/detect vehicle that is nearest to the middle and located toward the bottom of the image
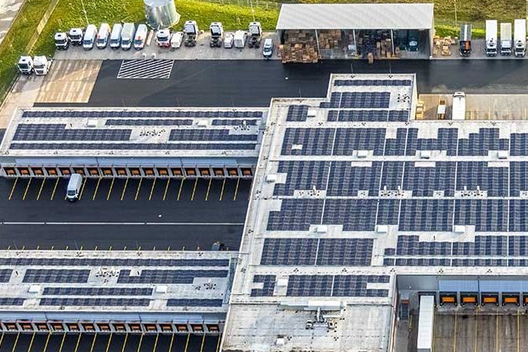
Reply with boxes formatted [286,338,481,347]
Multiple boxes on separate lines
[205,236,222,249]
